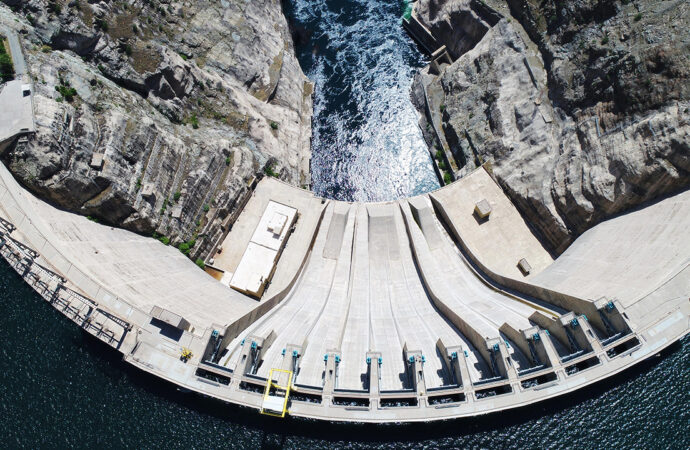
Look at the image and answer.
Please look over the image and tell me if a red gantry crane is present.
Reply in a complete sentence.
No, I find no red gantry crane anywhere in the image.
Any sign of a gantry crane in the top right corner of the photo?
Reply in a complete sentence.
No, there's no gantry crane to be seen in the top right corner of the photo.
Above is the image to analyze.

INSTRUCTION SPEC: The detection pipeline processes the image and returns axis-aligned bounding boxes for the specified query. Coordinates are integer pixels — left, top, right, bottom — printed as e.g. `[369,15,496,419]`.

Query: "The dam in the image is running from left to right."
[0,161,690,422]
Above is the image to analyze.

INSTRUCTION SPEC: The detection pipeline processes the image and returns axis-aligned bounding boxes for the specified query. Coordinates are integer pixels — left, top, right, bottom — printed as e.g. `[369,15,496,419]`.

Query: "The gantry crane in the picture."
[260,368,294,418]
